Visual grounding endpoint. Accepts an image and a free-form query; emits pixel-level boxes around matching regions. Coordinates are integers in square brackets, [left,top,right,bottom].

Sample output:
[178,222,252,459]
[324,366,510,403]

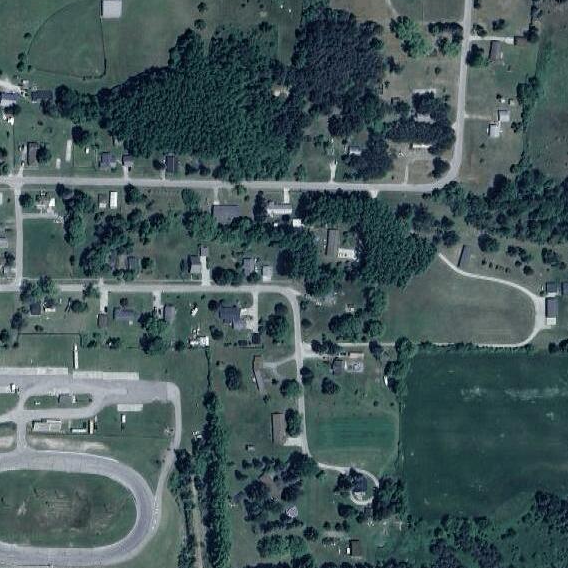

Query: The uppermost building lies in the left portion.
[102,0,123,19]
